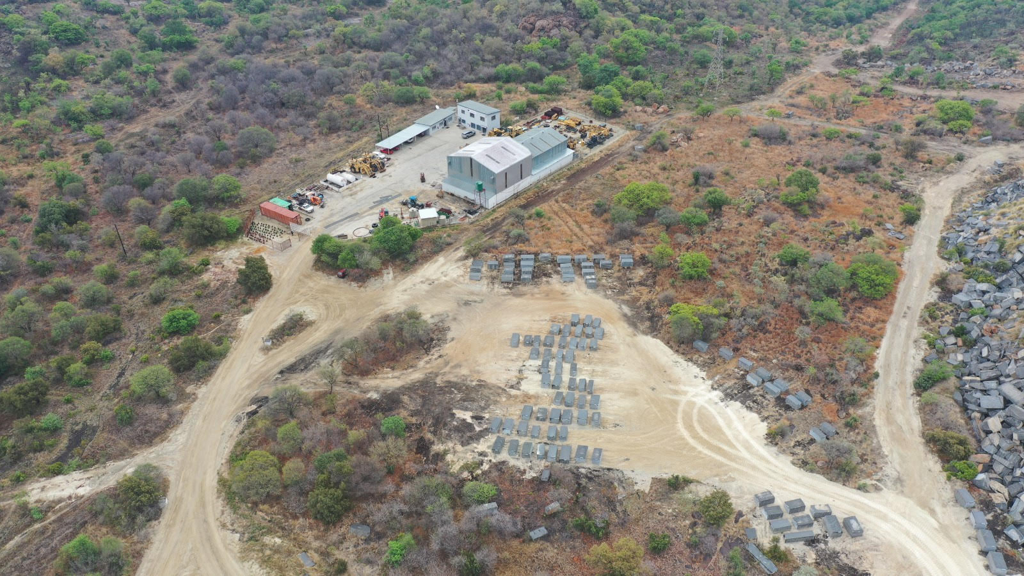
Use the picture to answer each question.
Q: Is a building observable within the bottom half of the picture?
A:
No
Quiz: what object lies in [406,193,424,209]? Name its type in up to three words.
work vehicle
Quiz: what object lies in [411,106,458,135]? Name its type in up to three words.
building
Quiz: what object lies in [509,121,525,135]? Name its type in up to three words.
work vehicle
